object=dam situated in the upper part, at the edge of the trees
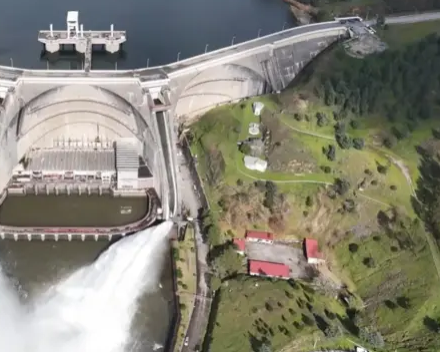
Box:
[0,18,360,230]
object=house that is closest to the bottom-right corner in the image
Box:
[305,238,323,263]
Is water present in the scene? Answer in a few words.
Yes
